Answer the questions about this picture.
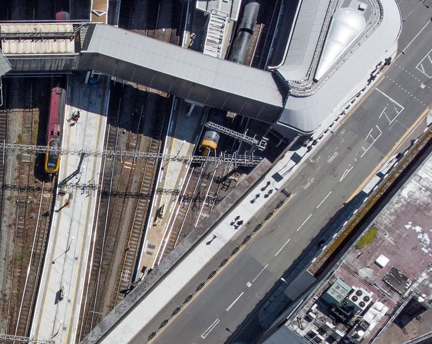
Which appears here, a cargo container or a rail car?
rail car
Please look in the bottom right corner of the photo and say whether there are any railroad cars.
No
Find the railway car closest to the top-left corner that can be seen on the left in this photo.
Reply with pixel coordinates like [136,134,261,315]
[43,76,68,186]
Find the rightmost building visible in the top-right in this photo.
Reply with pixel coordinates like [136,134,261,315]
[262,0,402,153]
